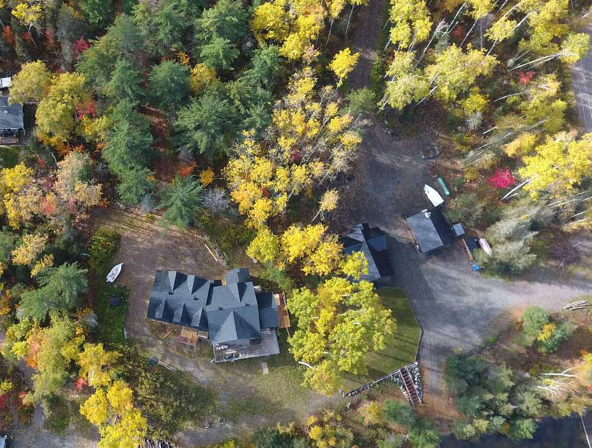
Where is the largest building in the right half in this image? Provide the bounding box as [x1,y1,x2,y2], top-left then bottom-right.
[333,223,396,291]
